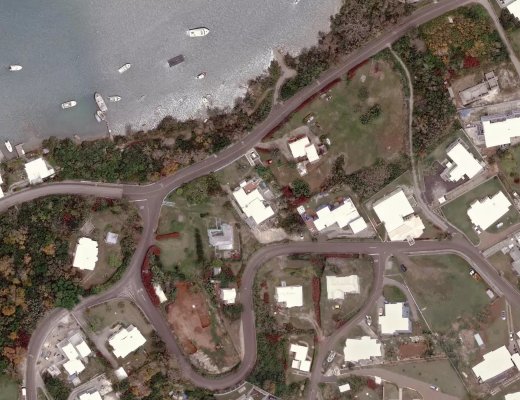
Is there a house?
Yes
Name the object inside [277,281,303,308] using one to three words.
house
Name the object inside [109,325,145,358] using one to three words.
house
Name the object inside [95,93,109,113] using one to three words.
boat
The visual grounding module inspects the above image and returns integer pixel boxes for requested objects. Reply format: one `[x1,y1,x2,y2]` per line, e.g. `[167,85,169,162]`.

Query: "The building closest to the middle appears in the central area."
[231,181,275,225]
